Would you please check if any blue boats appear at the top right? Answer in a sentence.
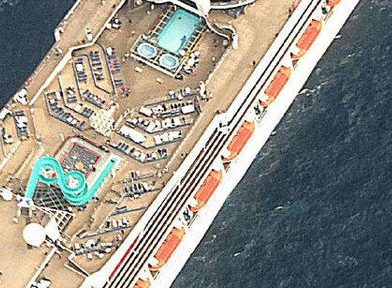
No, at the top right there is no blue boat.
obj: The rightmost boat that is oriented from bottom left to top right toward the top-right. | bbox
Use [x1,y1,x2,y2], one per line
[291,15,325,59]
